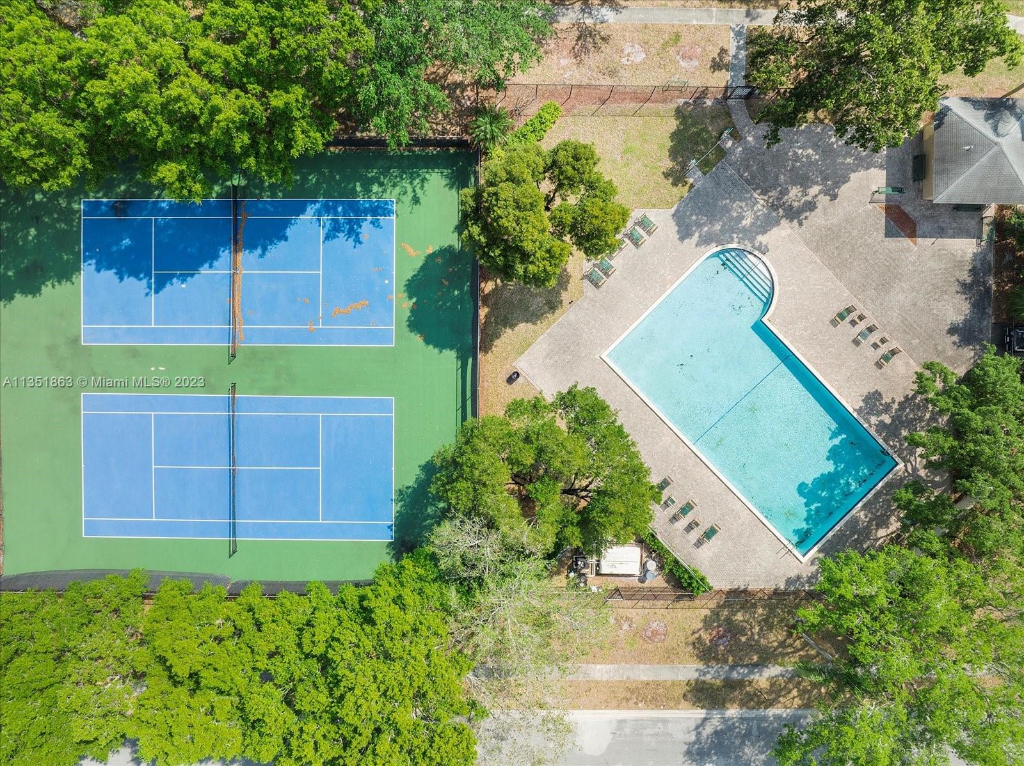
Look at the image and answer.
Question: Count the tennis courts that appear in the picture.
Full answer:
In total, 2 tennis courts can be seen.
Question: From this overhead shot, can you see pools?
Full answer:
Yes, there's a pool down there.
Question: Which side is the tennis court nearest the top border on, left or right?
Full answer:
You can find the tennis court nearest the top border on the left side of the picture.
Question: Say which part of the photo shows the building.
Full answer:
You can find the building in the top right area of the picture.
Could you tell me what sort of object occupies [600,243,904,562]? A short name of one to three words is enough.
swimming pool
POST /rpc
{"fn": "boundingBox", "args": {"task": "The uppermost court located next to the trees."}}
[81,199,396,347]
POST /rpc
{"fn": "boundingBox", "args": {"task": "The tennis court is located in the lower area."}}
[81,393,395,542]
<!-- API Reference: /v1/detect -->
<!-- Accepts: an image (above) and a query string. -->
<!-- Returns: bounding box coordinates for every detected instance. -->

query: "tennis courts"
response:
[81,393,395,542]
[81,199,396,347]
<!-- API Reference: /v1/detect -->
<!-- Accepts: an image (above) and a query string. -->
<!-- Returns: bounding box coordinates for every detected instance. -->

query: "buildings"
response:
[923,98,1024,205]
